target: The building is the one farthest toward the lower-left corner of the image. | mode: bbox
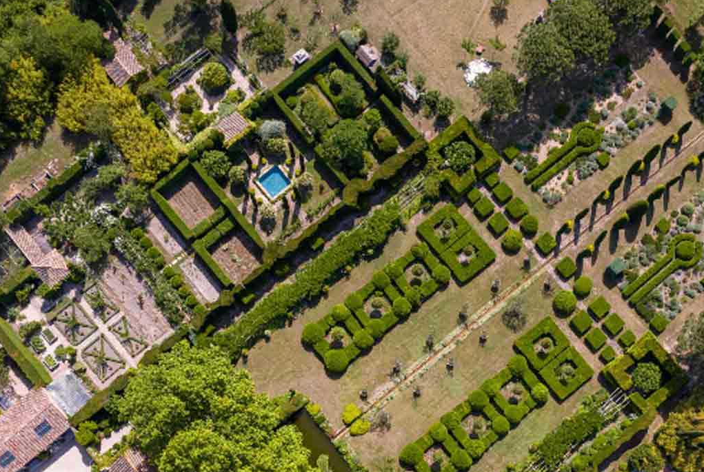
[0,388,75,472]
